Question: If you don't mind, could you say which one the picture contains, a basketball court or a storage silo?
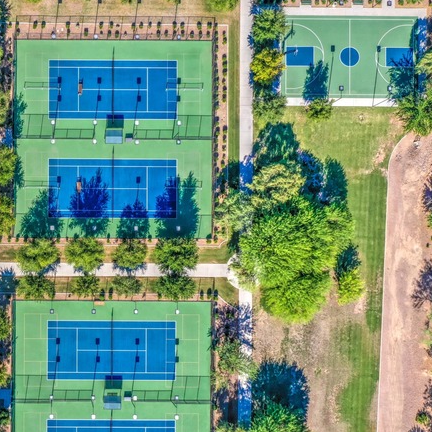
basketball court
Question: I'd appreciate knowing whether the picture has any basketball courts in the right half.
Yes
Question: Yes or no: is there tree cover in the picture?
Yes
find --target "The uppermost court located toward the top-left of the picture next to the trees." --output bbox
[16,39,212,139]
